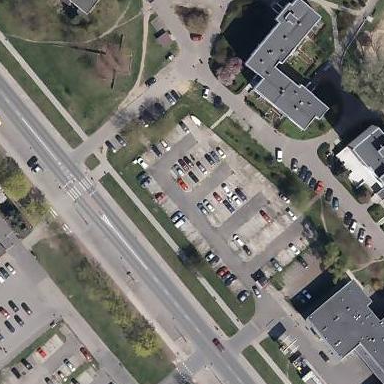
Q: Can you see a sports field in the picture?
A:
No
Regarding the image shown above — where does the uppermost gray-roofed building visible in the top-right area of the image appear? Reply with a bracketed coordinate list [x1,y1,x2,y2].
[246,0,329,132]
